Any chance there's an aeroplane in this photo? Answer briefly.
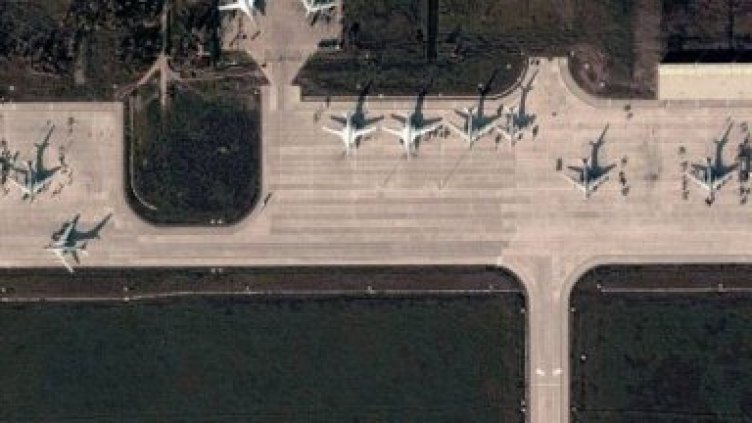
Yes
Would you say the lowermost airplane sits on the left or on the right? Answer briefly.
left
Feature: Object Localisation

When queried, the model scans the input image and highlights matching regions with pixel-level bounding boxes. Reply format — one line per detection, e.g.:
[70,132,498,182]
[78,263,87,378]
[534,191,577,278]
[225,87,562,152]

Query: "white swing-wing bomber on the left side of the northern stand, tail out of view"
[215,0,253,24]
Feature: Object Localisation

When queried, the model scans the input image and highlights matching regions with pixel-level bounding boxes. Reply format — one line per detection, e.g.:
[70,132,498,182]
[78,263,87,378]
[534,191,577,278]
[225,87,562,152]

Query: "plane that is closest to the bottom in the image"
[44,224,87,270]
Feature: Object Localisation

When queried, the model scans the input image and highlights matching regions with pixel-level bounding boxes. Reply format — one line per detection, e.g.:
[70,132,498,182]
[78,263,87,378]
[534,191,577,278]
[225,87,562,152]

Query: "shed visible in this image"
[658,63,752,99]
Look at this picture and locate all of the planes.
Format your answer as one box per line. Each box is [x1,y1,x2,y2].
[8,156,54,199]
[496,107,529,148]
[215,0,253,24]
[563,156,610,198]
[382,108,437,159]
[687,155,734,200]
[44,224,87,270]
[322,106,377,157]
[446,105,496,150]
[302,0,339,18]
